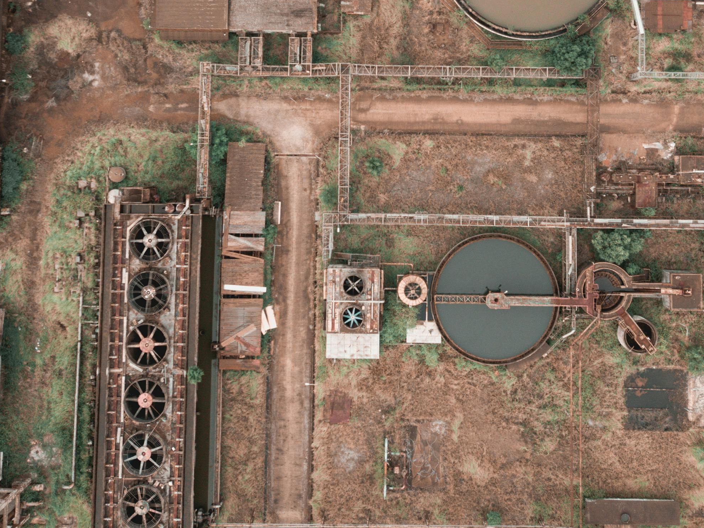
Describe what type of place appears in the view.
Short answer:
industrial area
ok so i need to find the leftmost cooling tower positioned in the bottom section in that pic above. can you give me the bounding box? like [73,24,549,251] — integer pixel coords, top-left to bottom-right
[93,197,203,528]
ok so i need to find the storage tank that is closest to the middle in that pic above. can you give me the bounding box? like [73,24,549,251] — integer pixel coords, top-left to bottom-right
[428,235,562,365]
